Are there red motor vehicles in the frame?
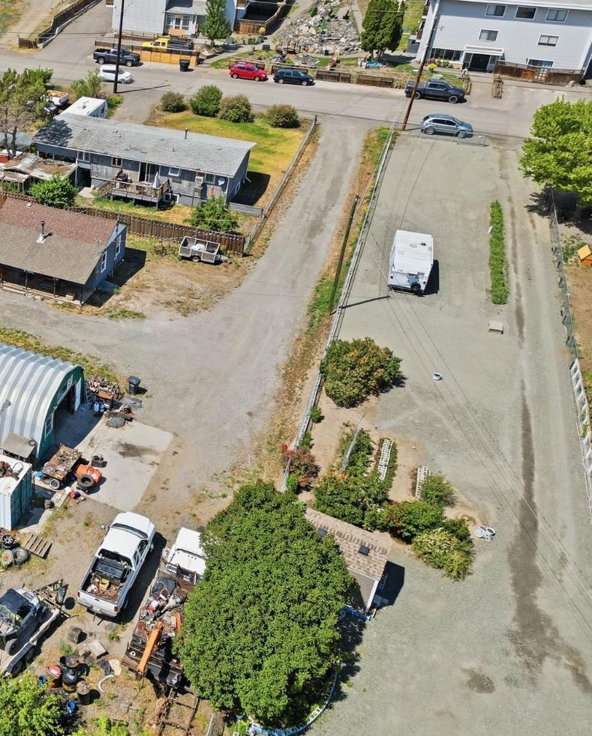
Yes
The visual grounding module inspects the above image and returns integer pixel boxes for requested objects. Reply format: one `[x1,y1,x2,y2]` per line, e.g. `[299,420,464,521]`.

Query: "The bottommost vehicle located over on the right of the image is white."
[387,237,430,299]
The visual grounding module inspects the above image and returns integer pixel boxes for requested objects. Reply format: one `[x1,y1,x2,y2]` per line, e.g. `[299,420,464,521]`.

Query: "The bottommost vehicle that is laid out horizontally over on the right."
[421,115,470,138]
